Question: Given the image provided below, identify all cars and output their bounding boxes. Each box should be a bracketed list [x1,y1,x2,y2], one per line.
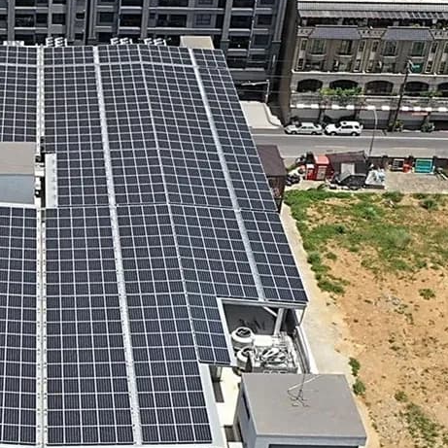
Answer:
[325,118,362,135]
[285,119,324,134]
